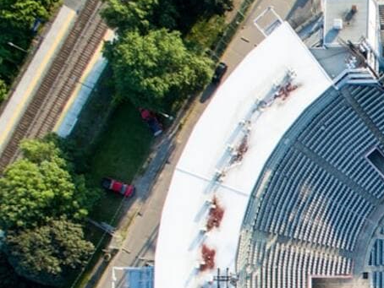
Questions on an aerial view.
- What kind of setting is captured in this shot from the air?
sports ground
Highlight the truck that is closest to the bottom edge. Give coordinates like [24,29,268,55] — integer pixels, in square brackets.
[100,175,132,198]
